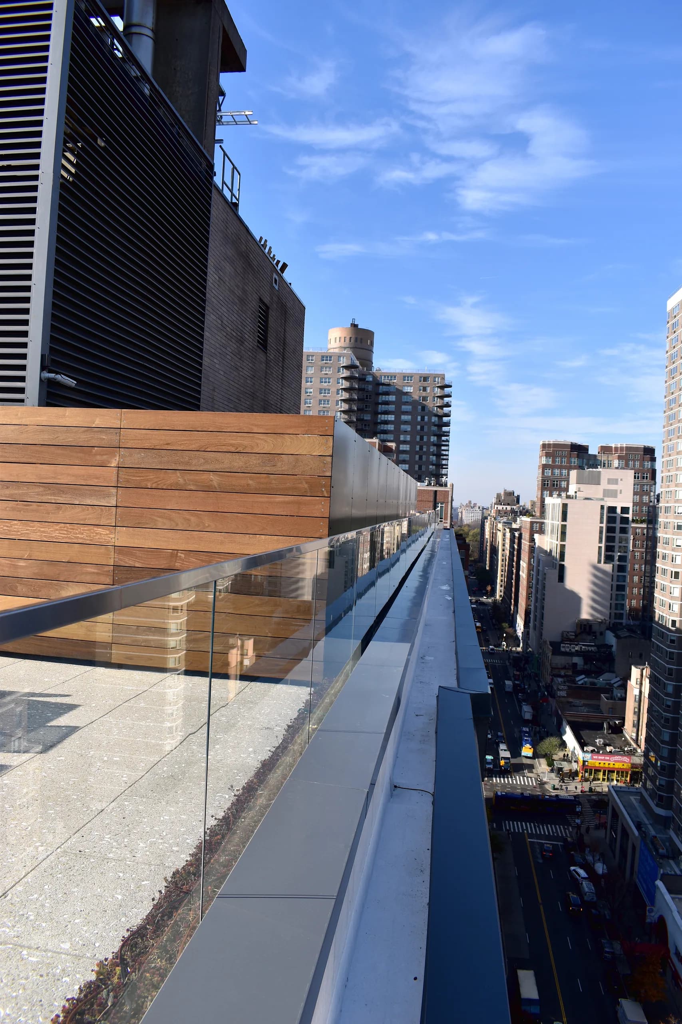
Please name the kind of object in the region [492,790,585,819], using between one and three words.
bus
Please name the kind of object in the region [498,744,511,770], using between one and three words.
vehicle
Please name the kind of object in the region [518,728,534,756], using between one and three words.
vehicle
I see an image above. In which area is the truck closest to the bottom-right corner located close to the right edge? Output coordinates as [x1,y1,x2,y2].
[618,995,654,1024]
